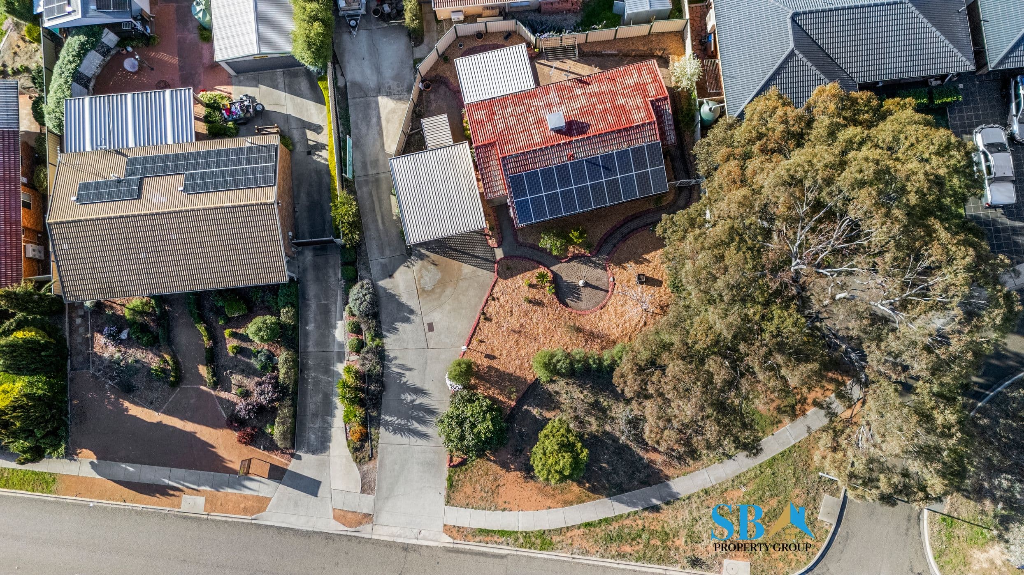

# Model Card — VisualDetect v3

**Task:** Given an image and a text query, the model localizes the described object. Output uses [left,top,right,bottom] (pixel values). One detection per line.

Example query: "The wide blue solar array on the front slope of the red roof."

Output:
[509,144,667,225]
